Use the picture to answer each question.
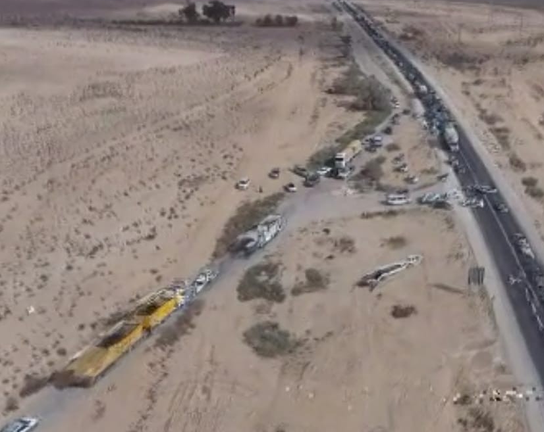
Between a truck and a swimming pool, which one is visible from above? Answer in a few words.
truck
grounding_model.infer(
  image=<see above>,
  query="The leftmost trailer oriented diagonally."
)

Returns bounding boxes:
[60,316,153,384]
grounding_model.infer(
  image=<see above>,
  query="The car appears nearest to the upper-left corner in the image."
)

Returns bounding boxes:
[235,175,252,189]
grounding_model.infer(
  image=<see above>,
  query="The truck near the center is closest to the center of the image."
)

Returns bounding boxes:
[247,210,287,242]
